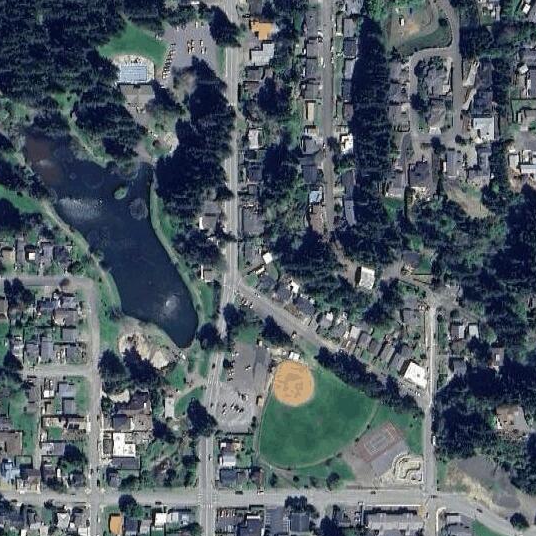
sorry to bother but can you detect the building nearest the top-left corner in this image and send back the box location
[120,84,155,113]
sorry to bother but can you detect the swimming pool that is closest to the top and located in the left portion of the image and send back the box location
[118,66,147,83]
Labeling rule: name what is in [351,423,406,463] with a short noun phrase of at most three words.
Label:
basketball court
